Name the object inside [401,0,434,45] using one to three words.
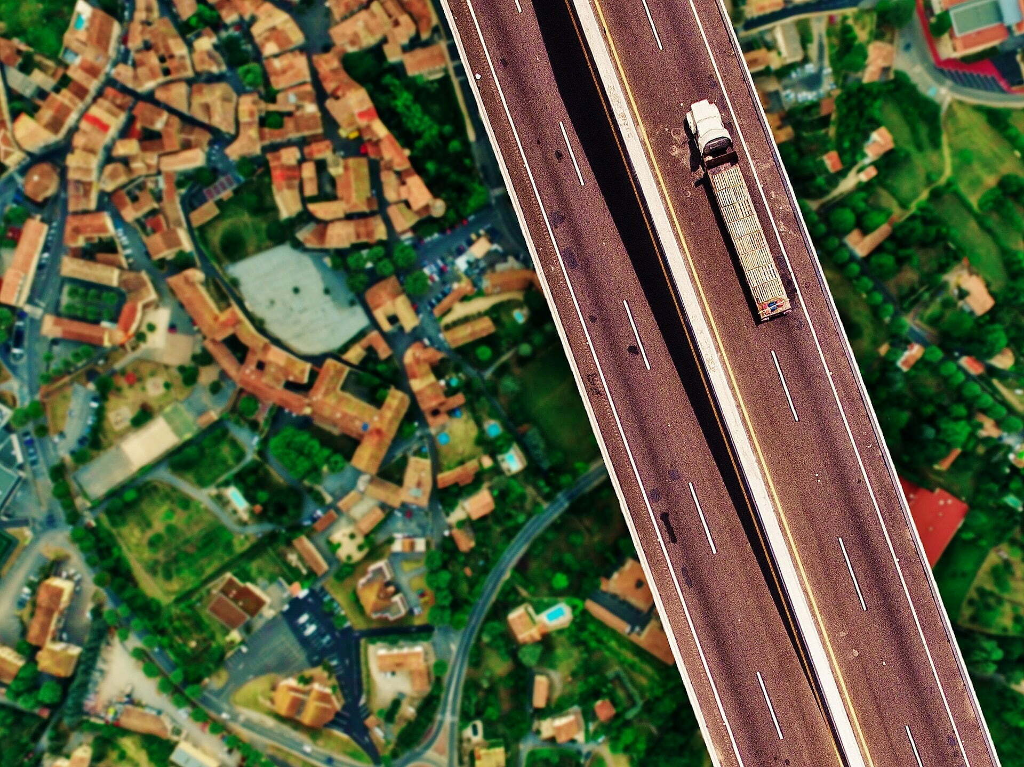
house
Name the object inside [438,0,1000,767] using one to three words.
bridge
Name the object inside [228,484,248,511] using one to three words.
swimming pool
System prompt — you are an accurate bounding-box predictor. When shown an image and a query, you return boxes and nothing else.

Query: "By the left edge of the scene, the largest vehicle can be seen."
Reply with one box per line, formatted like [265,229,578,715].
[14,324,27,350]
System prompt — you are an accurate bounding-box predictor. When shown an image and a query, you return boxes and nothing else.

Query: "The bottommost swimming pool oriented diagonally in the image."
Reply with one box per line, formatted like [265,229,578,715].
[544,605,567,623]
